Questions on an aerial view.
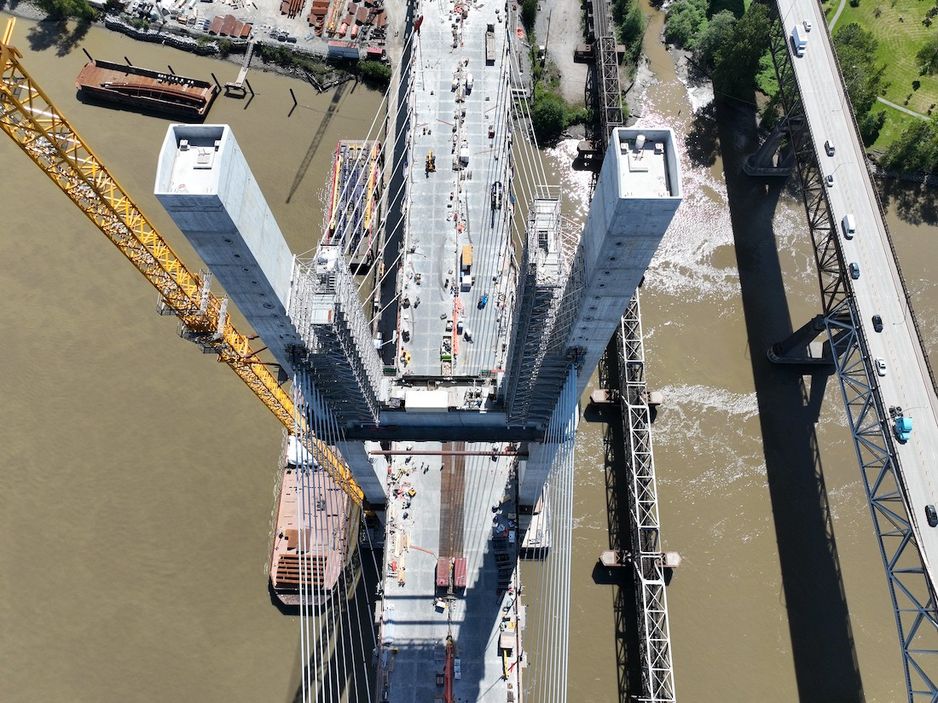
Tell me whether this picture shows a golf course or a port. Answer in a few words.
port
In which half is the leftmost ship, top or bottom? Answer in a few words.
top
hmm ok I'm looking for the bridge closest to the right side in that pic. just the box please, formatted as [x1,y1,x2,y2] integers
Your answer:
[716,0,938,703]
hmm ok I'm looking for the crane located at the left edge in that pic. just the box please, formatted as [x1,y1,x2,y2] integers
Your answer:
[0,12,358,506]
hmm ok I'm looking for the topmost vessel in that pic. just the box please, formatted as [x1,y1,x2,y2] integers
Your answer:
[77,57,218,119]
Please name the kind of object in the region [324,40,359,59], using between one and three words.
shed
